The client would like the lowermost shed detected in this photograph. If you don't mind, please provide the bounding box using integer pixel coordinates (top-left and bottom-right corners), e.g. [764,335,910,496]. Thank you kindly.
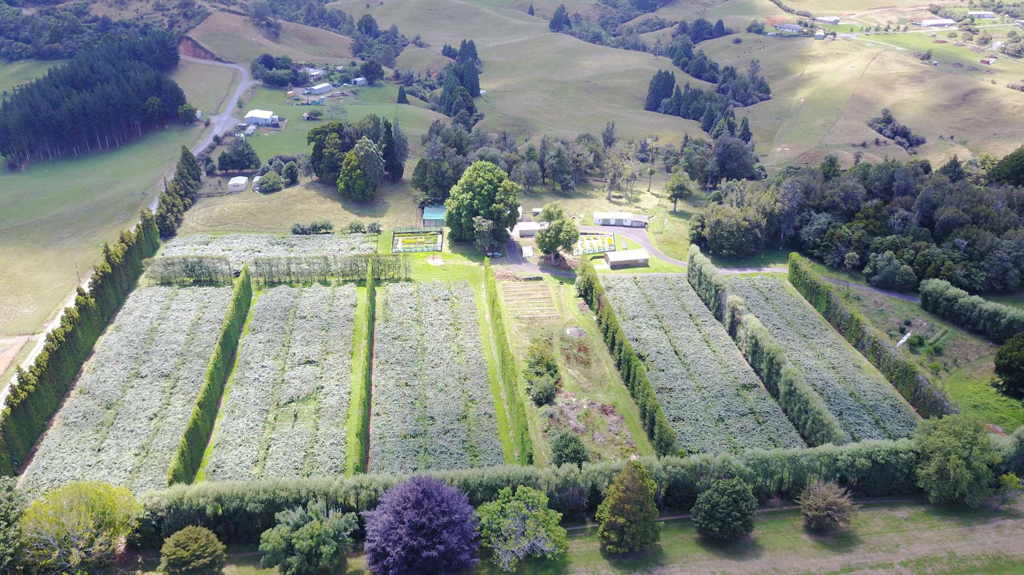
[603,245,651,270]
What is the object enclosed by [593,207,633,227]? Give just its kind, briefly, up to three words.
shed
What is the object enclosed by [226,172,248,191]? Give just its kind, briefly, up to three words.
shed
